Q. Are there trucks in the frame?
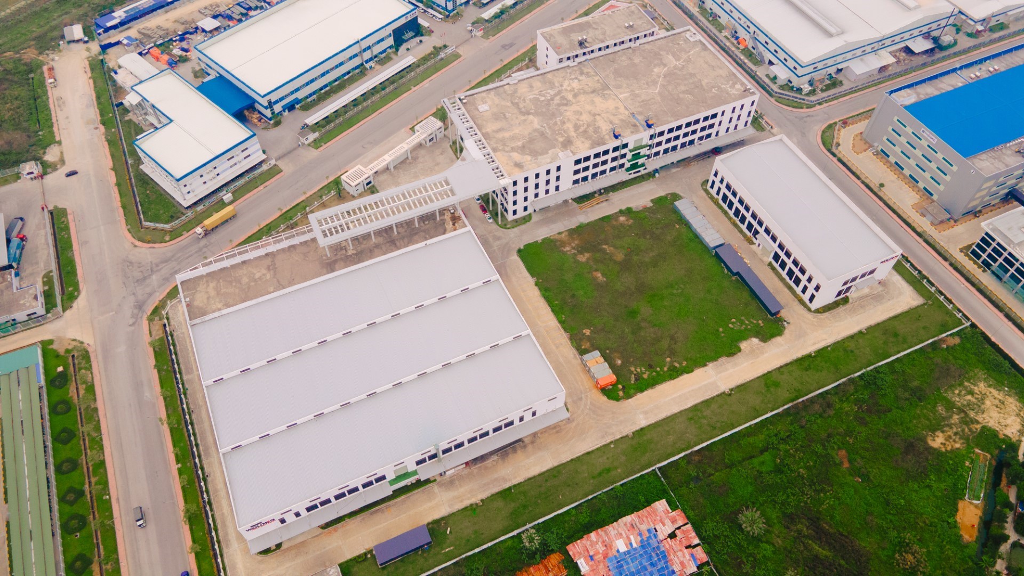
Yes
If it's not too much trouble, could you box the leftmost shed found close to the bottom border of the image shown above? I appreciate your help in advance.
[6,362,56,576]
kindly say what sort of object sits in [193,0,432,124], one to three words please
building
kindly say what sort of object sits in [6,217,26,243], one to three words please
vehicle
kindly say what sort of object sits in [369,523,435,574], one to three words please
shed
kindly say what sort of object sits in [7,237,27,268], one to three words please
vehicle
